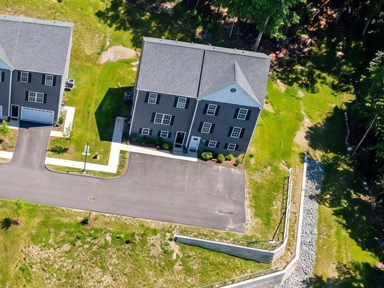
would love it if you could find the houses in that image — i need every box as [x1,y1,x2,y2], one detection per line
[128,35,270,154]
[0,13,76,126]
